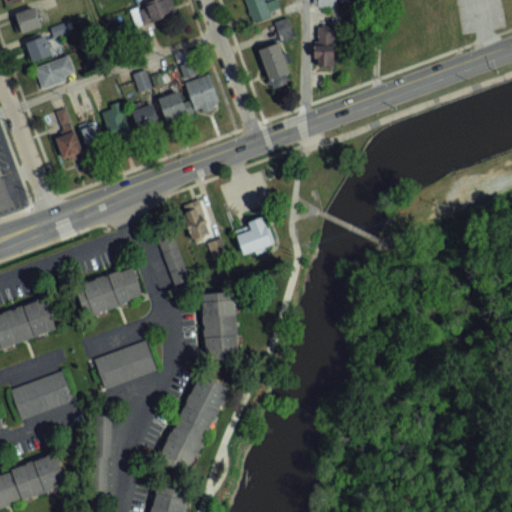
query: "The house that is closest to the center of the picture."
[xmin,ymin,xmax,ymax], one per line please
[236,218,275,254]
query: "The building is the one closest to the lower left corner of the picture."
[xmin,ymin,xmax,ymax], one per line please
[0,455,61,506]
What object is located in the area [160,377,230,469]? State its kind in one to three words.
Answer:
building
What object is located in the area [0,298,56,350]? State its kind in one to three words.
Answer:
building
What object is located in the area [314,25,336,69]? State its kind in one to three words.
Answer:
house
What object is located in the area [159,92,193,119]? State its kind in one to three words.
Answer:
house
